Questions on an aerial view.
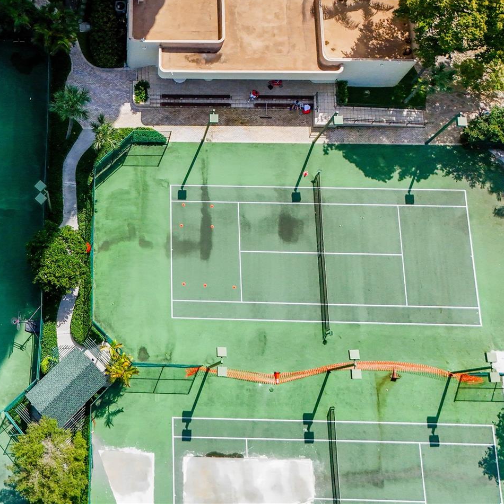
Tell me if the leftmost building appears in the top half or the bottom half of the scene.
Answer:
bottom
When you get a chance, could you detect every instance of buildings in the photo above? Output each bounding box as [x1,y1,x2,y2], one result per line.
[126,0,416,87]
[12,331,114,432]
